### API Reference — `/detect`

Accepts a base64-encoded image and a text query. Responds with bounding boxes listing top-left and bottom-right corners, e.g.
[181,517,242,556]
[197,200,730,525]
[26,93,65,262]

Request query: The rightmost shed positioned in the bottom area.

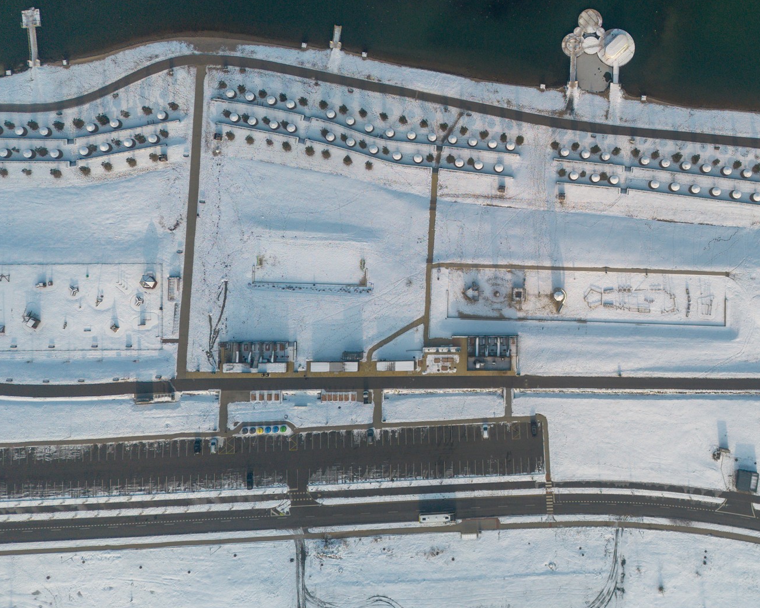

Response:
[734,466,759,493]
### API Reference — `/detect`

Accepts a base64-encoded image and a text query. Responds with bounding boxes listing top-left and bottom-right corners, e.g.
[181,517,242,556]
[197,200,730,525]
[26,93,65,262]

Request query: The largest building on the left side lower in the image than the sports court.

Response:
[219,340,299,372]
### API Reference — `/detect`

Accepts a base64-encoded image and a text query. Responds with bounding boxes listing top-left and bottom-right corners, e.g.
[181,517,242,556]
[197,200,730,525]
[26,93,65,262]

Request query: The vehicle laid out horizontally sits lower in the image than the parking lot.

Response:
[419,511,460,523]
